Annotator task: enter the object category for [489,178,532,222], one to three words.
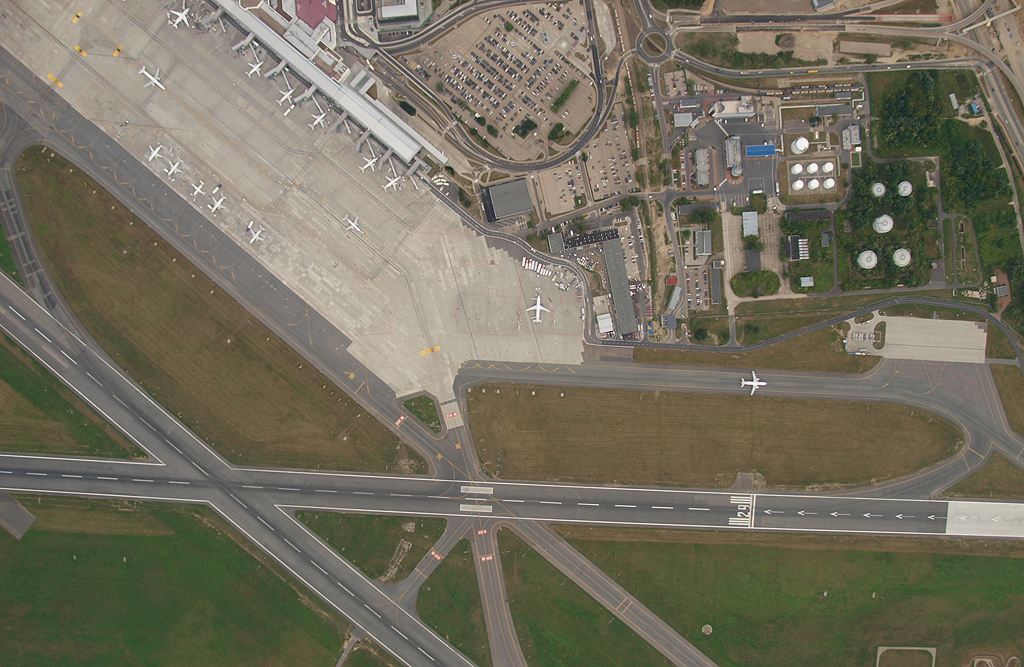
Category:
hangar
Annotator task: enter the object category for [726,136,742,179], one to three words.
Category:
building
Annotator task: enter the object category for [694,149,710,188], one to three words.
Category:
building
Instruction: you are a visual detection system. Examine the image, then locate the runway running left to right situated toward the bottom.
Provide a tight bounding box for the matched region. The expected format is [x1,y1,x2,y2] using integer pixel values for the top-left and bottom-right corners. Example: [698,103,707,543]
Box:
[0,455,1024,537]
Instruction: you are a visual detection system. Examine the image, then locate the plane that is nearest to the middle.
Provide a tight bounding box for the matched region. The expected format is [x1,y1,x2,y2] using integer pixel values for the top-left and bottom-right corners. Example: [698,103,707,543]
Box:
[526,295,550,323]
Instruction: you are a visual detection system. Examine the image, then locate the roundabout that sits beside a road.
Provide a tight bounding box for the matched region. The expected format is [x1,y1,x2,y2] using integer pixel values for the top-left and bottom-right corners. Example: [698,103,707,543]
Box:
[634,25,675,65]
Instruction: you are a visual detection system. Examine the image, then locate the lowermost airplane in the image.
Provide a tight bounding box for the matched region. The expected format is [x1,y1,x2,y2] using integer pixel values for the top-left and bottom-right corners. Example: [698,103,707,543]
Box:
[741,371,767,396]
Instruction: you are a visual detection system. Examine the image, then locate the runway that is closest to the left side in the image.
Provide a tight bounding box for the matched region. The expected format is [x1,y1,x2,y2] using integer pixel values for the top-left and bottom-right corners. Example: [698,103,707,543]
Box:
[0,270,476,667]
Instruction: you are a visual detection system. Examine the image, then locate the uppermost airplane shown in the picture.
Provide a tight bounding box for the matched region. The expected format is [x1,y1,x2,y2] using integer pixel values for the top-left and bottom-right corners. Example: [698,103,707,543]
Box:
[170,9,190,30]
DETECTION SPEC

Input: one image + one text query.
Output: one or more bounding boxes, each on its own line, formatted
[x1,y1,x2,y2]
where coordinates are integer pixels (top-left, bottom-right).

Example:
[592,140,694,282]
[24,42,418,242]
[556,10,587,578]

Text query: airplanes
[342,215,365,234]
[741,371,767,396]
[211,194,227,213]
[308,113,326,130]
[245,62,263,78]
[275,88,295,106]
[138,65,165,90]
[149,143,164,161]
[359,156,381,173]
[168,157,184,176]
[250,225,266,244]
[170,9,190,30]
[526,295,550,323]
[381,177,401,192]
[189,180,205,196]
